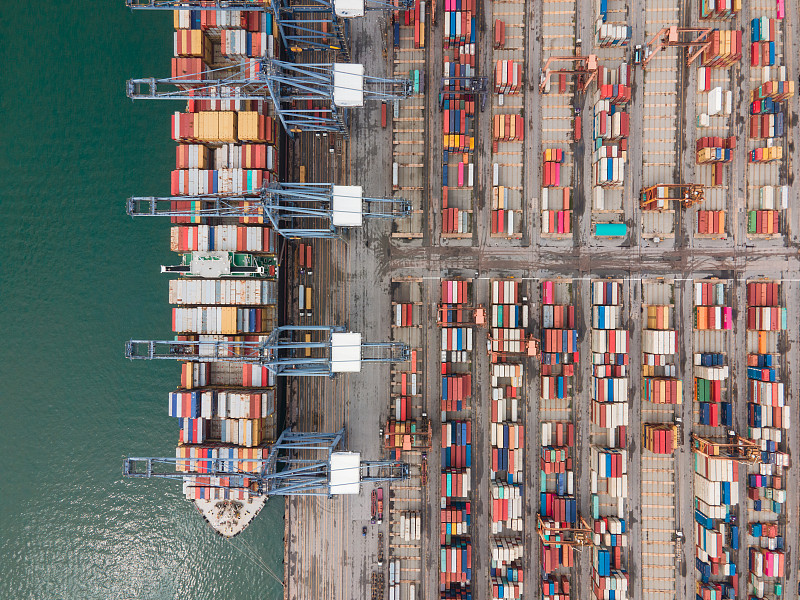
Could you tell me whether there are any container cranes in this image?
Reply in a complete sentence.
Yes, a container crane is visible in the scene.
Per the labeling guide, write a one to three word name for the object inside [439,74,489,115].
container crane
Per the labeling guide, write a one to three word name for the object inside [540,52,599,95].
container crane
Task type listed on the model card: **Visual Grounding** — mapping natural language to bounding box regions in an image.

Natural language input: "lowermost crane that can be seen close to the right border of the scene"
[692,432,766,466]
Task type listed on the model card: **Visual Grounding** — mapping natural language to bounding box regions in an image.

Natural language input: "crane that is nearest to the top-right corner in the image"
[642,20,712,67]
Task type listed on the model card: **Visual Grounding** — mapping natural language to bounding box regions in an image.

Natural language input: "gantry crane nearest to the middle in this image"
[438,302,488,328]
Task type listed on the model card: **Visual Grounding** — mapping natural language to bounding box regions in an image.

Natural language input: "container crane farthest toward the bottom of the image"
[538,507,593,548]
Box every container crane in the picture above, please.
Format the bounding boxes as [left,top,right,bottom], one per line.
[120,182,405,248]
[118,416,403,500]
[438,302,488,328]
[538,507,593,548]
[119,316,404,380]
[641,182,706,210]
[439,74,489,115]
[488,331,542,359]
[384,414,432,449]
[540,52,599,95]
[692,432,766,466]
[642,20,712,67]
[122,0,406,70]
